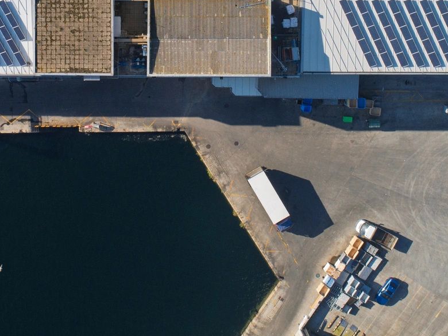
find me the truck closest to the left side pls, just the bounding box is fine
[245,165,297,233]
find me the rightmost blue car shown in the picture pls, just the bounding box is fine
[371,272,398,305]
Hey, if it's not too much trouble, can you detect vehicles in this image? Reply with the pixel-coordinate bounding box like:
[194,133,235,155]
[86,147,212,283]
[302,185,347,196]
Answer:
[353,218,392,247]
[245,165,297,233]
[371,272,398,305]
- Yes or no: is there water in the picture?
Yes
